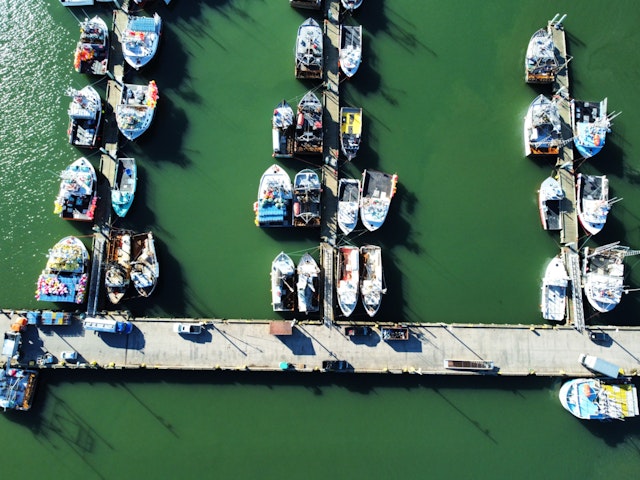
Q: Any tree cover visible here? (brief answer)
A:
No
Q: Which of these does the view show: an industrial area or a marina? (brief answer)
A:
marina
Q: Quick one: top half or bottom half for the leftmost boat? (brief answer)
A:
bottom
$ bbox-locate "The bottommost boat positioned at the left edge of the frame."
[0,367,43,414]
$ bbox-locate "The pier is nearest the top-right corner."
[548,22,570,90]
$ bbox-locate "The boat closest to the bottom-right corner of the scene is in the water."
[558,376,640,424]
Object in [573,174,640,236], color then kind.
white boat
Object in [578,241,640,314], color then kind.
white boat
